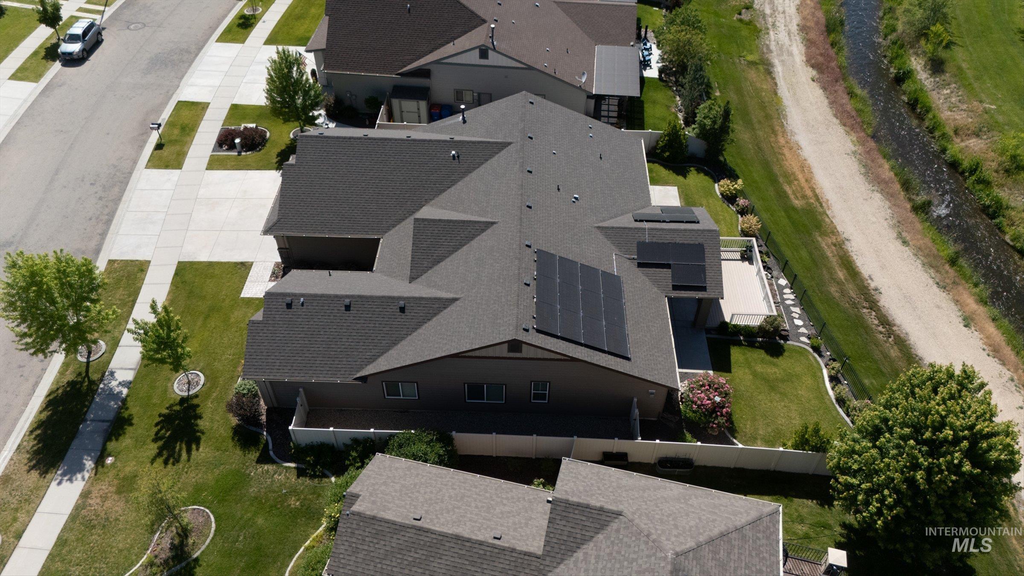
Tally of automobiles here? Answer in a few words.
1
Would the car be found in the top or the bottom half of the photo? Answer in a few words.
top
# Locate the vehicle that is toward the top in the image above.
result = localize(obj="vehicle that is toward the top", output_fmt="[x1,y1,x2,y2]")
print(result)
[54,14,104,60]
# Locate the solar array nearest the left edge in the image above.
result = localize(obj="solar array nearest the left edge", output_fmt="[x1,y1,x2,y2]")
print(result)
[531,248,630,360]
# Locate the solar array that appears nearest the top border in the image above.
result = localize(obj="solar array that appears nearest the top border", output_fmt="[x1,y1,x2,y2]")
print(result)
[632,207,701,224]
